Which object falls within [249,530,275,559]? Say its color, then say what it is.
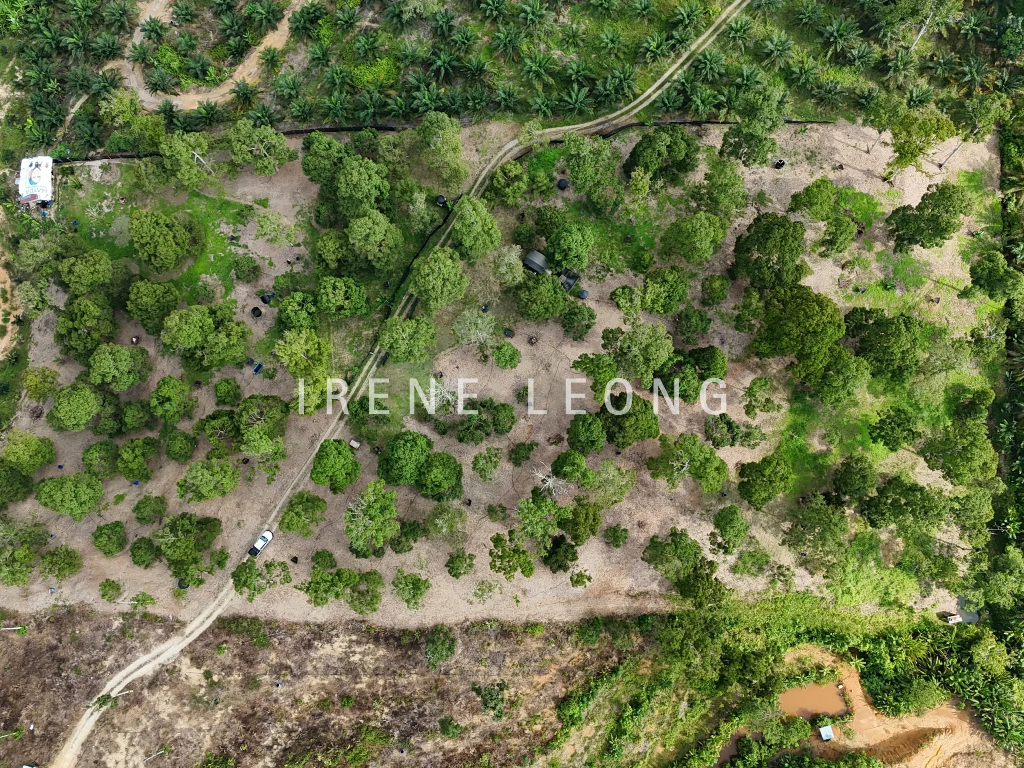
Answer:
white truck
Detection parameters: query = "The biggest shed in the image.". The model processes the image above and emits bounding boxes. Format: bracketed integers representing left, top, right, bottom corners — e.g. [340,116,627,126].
[15,156,59,204]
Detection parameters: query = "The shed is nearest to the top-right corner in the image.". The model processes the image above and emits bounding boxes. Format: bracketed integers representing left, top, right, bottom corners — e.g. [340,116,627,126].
[523,249,547,272]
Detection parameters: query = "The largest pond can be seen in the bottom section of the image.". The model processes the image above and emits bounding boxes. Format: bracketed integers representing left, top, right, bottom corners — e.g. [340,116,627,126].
[780,683,846,719]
